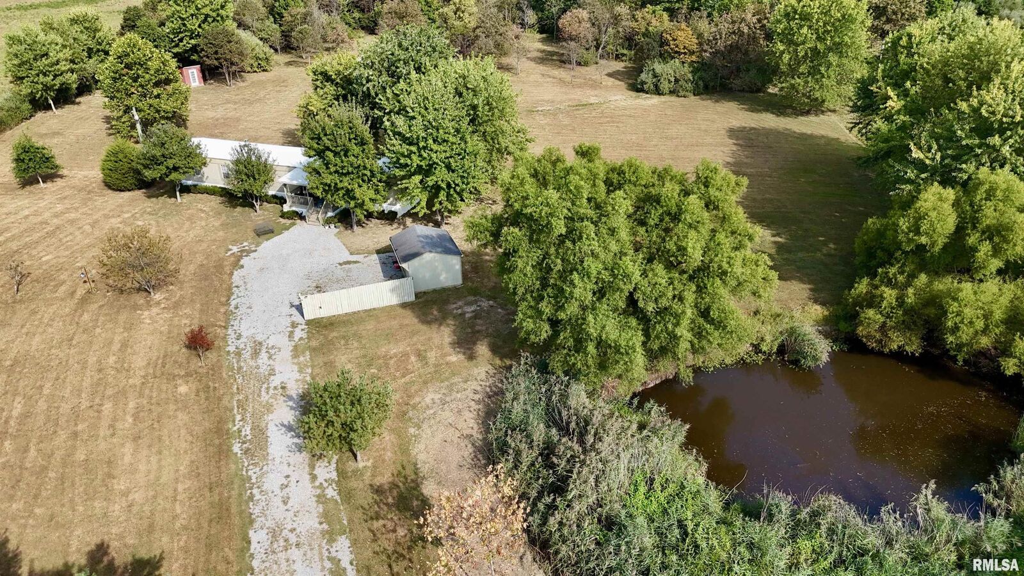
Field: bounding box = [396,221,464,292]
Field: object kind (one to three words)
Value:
shed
